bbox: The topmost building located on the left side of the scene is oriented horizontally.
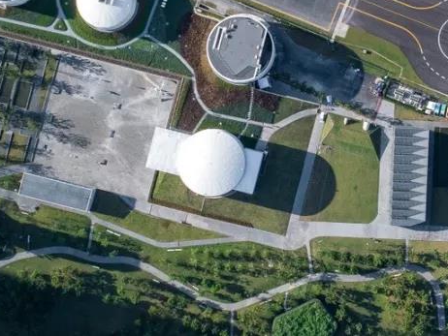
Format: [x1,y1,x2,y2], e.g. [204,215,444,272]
[18,169,101,212]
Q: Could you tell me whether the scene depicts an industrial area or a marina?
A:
industrial area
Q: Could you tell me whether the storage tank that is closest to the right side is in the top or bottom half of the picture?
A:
top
